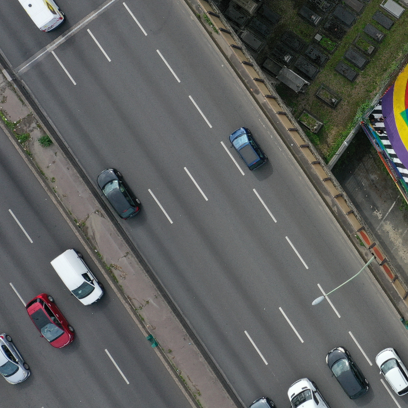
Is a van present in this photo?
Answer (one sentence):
Yes, a van can be made out from above.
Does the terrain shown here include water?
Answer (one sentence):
No, there is no water in the image.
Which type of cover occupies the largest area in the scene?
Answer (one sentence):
The scene is dominated by paved ground.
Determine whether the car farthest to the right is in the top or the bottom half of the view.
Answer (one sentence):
You can find the car farthest to the right in the bottom half.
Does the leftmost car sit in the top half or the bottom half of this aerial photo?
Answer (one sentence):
The leftmost car sits in the bottom half of the picture.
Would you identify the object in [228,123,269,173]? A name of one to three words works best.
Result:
car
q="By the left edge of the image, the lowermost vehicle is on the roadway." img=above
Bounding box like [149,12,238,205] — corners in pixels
[0,330,29,383]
